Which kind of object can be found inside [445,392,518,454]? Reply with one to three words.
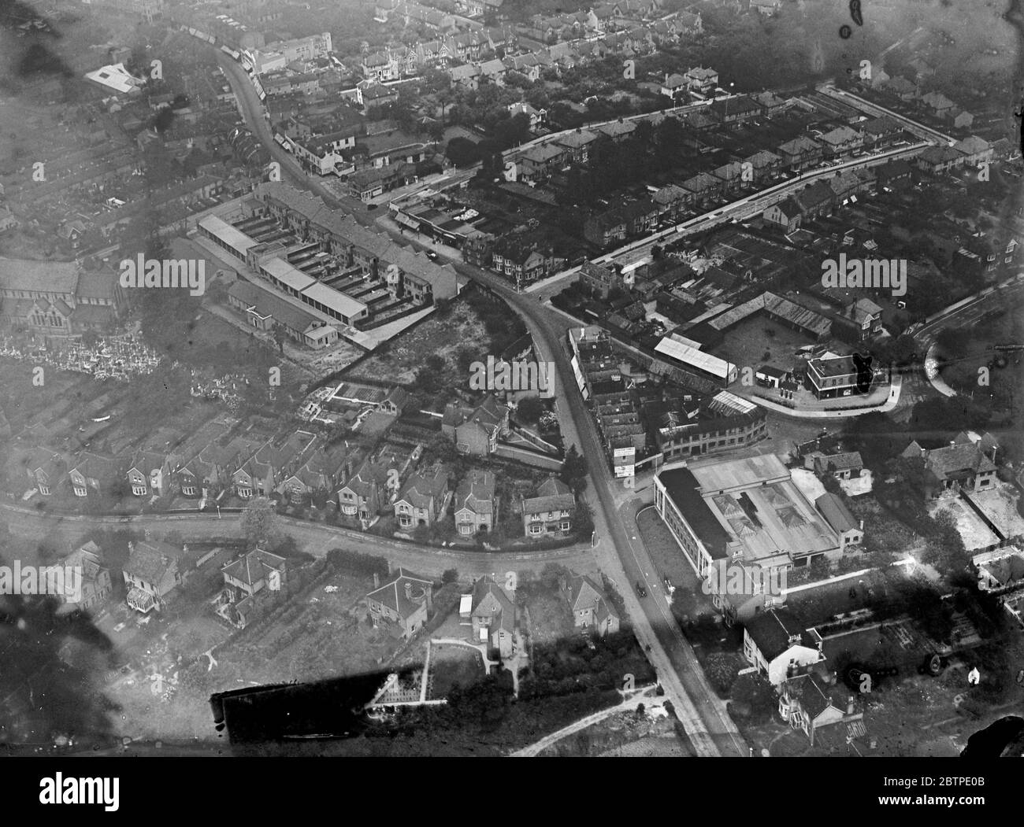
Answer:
house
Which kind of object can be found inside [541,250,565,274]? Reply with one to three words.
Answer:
shed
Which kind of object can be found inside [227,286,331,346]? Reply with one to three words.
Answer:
building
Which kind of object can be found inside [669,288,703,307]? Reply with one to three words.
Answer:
shed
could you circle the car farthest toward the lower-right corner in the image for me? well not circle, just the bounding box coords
[635,581,648,597]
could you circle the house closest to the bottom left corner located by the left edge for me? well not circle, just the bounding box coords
[46,542,117,612]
